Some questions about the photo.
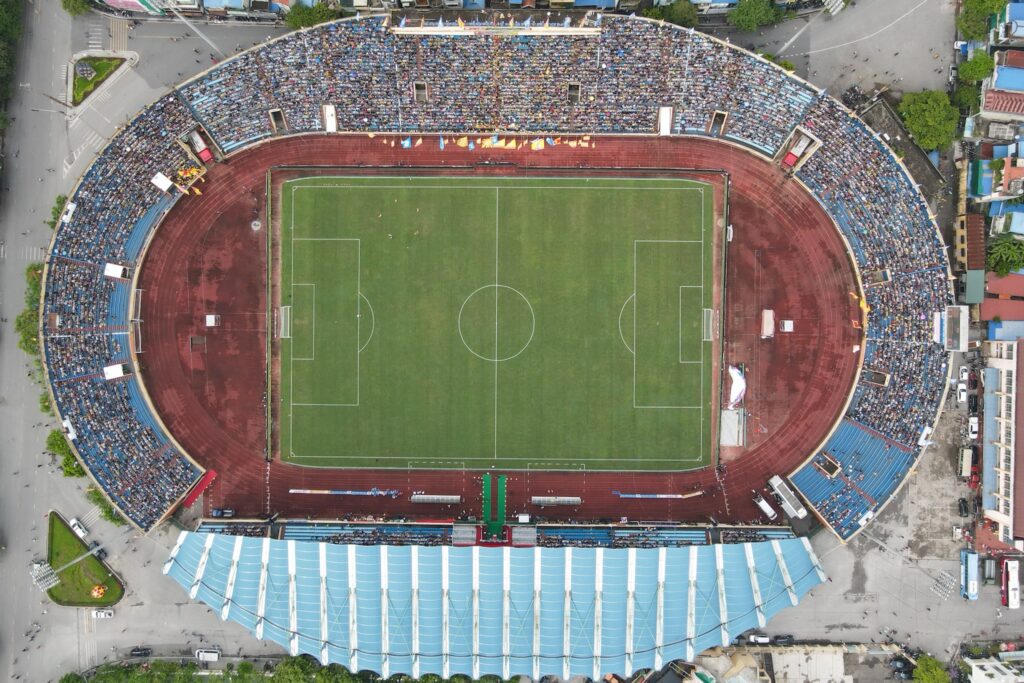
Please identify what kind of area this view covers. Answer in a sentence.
The picture captures a sports ground.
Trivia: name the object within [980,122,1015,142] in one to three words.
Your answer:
shed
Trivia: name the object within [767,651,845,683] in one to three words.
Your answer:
building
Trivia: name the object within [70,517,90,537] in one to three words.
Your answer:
car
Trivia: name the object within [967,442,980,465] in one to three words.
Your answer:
vehicle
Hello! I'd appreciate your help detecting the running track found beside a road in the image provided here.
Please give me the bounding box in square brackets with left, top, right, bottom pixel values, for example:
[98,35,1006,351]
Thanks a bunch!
[135,135,863,550]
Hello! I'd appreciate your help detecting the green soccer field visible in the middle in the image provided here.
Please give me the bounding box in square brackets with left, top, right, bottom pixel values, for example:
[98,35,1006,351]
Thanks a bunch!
[271,172,723,504]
